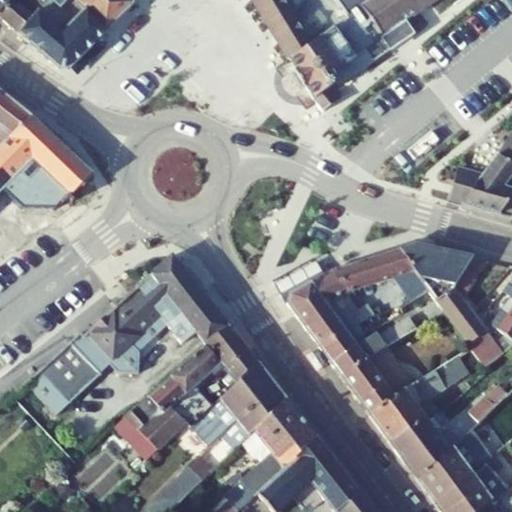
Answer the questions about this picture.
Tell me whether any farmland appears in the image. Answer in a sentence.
No, no farmland is visible.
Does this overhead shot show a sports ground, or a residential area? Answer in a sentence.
This image shows a residential area.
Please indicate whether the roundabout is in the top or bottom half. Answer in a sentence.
It is in the top half that the roundabout appears.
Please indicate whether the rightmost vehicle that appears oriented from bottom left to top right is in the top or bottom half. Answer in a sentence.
The rightmost vehicle that appears oriented from bottom left to top right is in the top half of the image.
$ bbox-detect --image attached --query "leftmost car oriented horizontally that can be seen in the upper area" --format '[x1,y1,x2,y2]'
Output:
[176,122,196,134]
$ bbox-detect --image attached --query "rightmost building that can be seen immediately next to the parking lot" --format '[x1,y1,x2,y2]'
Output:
[450,153,512,216]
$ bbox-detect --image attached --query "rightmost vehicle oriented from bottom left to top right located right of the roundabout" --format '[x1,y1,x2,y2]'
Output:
[410,130,440,157]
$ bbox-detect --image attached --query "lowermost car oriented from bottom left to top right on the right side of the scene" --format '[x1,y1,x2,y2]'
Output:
[328,230,347,247]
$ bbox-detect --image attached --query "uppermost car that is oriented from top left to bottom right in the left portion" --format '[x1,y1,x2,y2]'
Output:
[158,52,176,70]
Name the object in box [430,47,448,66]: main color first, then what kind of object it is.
white car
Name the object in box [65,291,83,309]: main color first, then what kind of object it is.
white car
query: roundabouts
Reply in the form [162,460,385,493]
[117,112,240,236]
